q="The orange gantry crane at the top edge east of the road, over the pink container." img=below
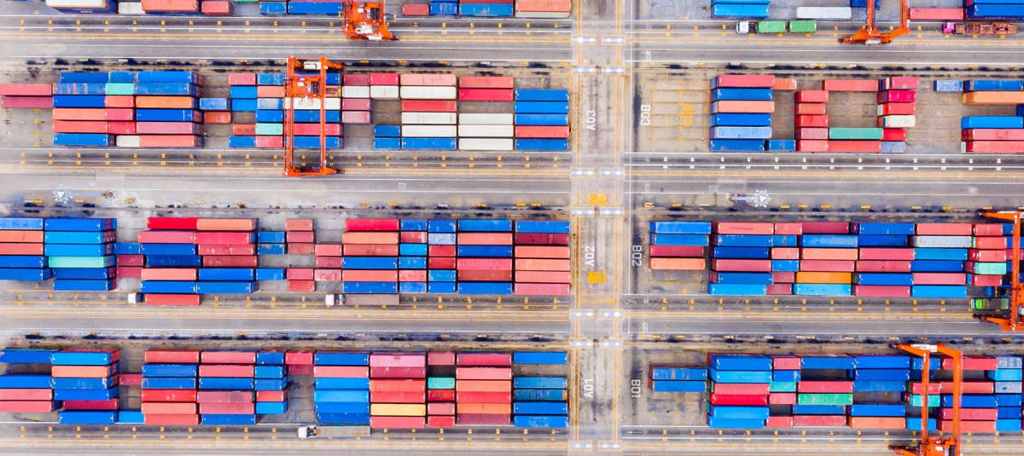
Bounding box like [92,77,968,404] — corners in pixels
[831,0,914,47]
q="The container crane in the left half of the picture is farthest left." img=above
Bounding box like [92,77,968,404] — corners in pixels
[282,54,353,175]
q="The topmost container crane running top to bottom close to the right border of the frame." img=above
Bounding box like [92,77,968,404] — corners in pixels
[965,211,1024,330]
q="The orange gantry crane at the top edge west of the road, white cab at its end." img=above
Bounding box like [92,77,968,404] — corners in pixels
[337,0,407,43]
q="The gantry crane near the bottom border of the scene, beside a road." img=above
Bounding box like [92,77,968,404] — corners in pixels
[878,343,965,456]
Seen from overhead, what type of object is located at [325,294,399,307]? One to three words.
vehicle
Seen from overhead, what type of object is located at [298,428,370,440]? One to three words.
vehicle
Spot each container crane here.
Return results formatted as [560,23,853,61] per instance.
[282,54,353,175]
[337,0,407,43]
[831,0,914,47]
[965,211,1024,330]
[878,343,965,456]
